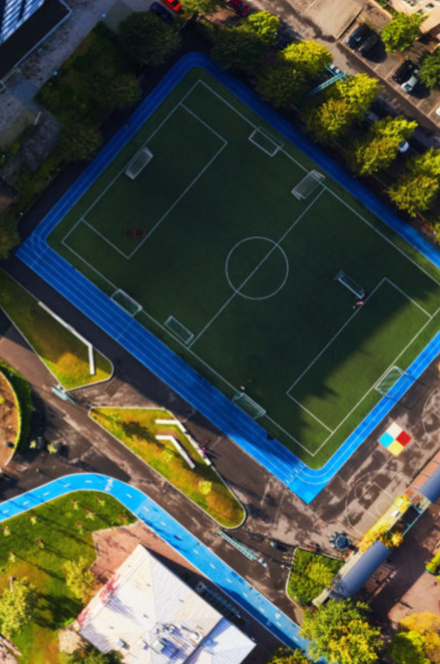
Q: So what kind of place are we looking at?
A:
sports ground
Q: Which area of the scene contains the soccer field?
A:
center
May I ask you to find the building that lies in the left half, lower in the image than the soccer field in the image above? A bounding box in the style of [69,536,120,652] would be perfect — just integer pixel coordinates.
[78,546,256,664]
